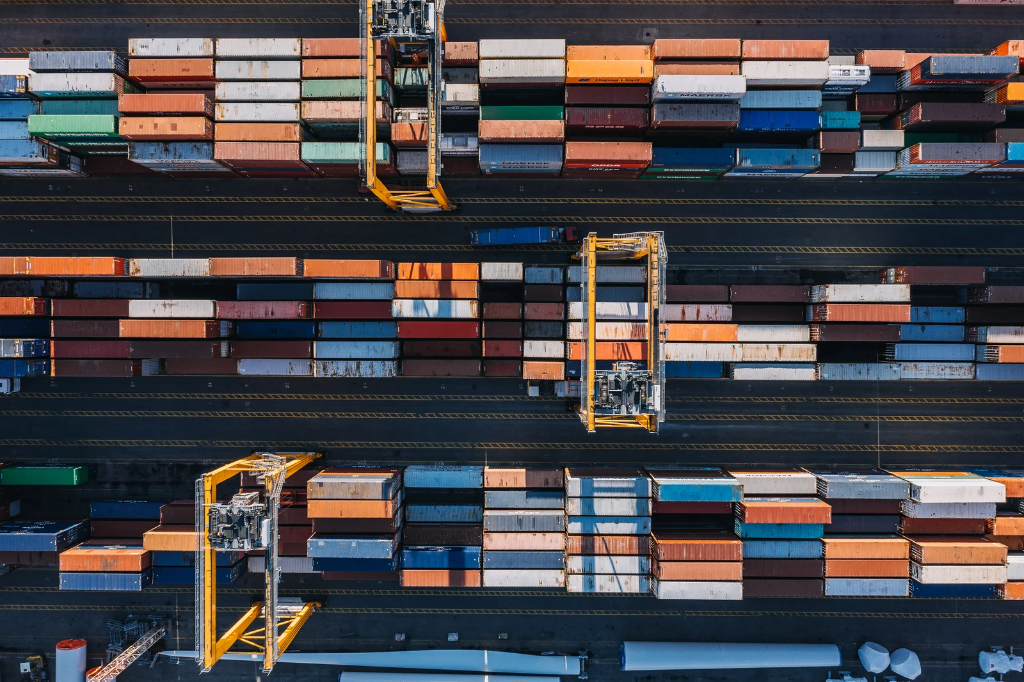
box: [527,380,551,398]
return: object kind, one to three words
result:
vehicle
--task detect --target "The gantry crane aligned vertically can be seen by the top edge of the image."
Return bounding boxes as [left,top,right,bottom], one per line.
[358,0,467,215]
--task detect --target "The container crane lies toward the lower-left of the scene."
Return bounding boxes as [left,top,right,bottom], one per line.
[194,443,334,671]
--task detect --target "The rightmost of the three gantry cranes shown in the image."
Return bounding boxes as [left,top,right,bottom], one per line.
[561,229,671,437]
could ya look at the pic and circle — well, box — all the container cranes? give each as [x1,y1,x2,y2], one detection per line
[358,0,467,215]
[561,229,671,437]
[194,443,334,671]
